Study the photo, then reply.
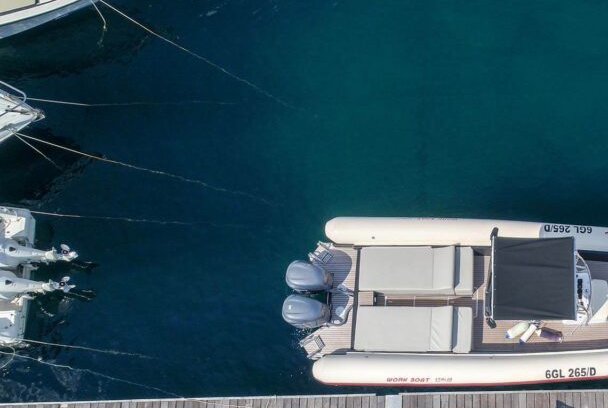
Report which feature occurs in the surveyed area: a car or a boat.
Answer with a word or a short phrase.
boat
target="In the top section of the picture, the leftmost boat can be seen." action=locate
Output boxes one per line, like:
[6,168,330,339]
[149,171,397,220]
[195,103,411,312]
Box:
[0,81,47,154]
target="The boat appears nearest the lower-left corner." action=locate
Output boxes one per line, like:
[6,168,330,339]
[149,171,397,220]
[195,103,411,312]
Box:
[0,210,73,347]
